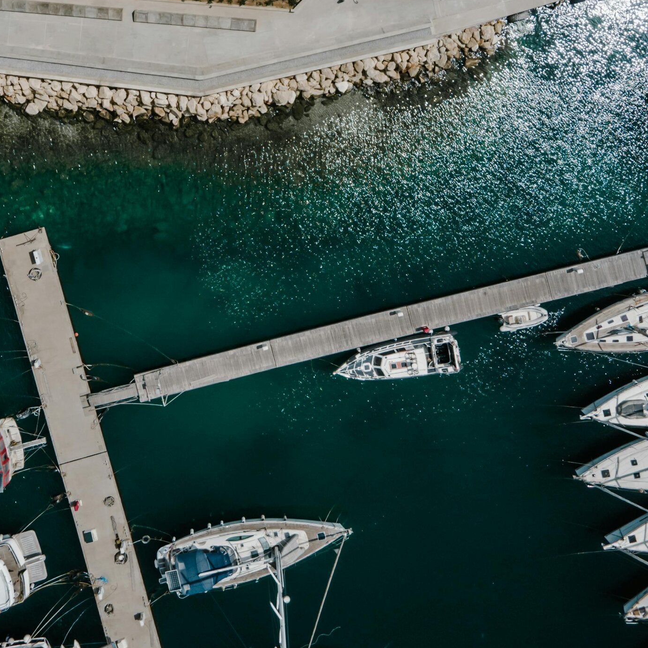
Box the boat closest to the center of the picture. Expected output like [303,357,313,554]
[324,325,460,384]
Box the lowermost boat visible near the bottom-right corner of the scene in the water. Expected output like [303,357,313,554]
[609,584,648,629]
